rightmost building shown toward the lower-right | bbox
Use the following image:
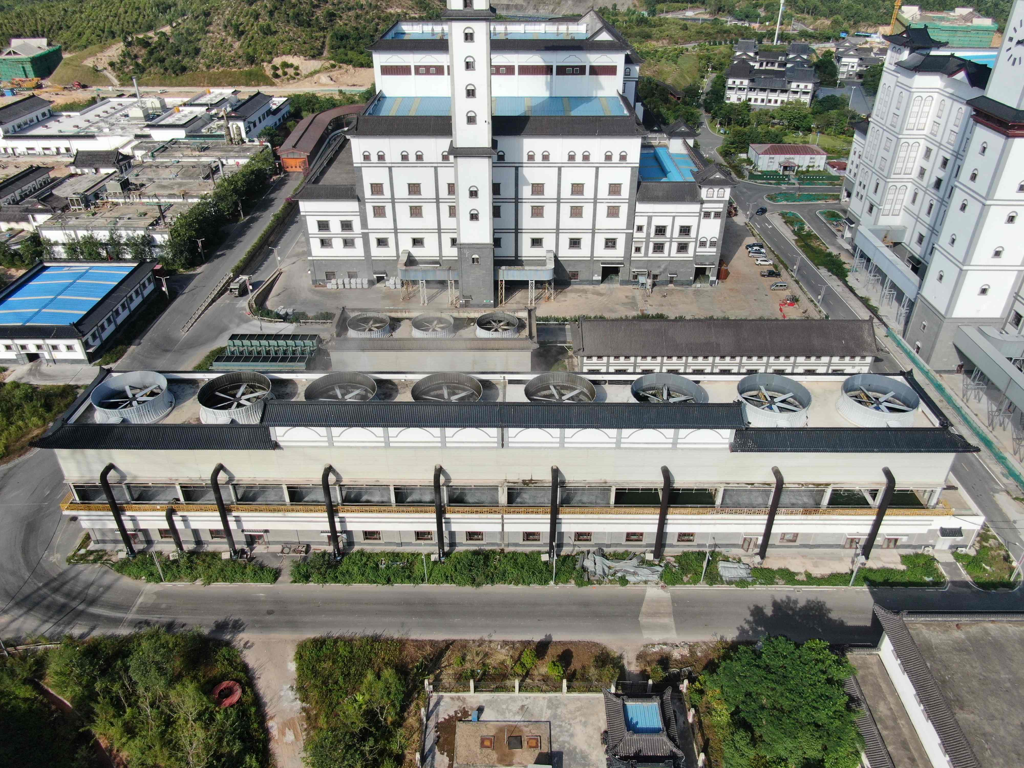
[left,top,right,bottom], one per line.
[823,591,1024,768]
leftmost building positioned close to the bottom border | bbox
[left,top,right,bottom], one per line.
[599,680,692,768]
